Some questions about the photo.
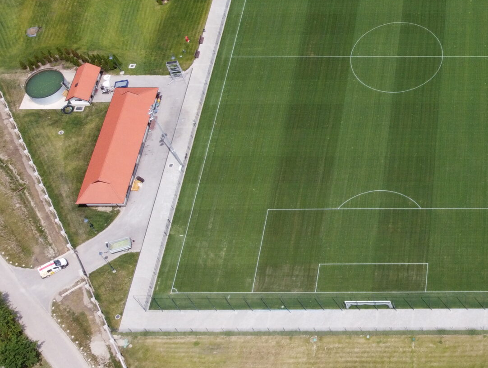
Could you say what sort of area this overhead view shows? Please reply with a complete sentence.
This looks like a sports ground.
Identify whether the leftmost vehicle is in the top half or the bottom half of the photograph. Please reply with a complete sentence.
The bottom half of the photo is where the leftmost vehicle is.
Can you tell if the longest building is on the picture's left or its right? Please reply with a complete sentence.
The longest building sits on the left side.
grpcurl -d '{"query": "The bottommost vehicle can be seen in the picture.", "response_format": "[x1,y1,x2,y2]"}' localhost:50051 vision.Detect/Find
[34,257,69,279]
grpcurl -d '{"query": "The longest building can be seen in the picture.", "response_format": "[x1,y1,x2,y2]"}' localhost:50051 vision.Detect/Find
[76,87,161,206]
